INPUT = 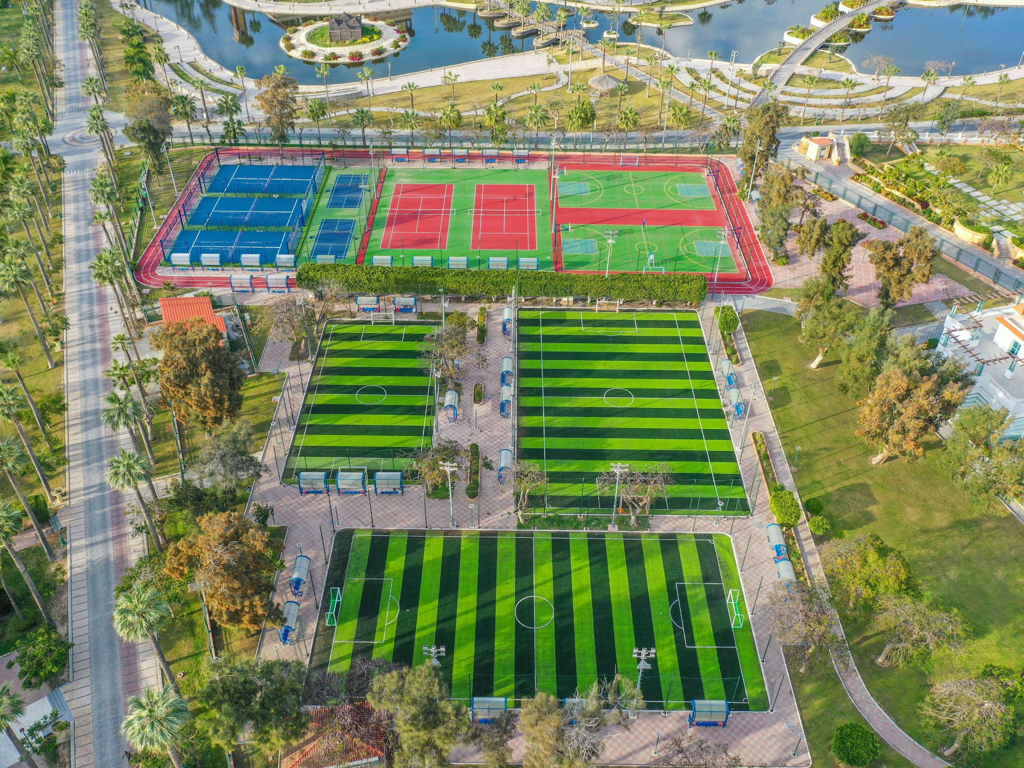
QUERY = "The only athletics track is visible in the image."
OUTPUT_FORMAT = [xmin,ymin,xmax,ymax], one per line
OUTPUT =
[133,148,776,295]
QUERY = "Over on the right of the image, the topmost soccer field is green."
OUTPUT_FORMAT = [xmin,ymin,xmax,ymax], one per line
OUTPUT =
[516,306,751,517]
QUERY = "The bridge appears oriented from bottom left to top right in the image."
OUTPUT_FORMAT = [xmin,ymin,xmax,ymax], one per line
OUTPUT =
[738,0,911,109]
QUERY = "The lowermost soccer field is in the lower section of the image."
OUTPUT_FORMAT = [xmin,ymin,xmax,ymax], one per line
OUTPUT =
[300,527,771,712]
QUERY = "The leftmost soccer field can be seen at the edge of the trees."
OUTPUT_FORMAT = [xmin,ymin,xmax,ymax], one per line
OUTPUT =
[279,318,444,487]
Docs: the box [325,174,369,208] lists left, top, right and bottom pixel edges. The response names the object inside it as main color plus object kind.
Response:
blue sports court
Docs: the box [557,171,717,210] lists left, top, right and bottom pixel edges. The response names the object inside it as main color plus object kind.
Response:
green basketball court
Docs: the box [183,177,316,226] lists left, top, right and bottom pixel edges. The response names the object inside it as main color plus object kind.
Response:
blue sports court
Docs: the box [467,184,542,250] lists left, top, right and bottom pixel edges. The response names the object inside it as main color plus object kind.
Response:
red tennis court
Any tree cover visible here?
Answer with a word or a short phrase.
Yes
